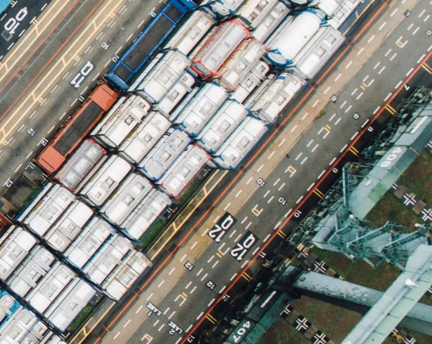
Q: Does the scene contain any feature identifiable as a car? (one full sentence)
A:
No, there's no car here.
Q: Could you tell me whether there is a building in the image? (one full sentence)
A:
No, the scene contains no building.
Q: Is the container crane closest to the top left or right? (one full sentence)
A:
The container crane closest to the top appears in the right half of the scene.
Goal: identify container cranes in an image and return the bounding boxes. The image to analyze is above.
[286,65,432,272]
[191,252,432,344]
